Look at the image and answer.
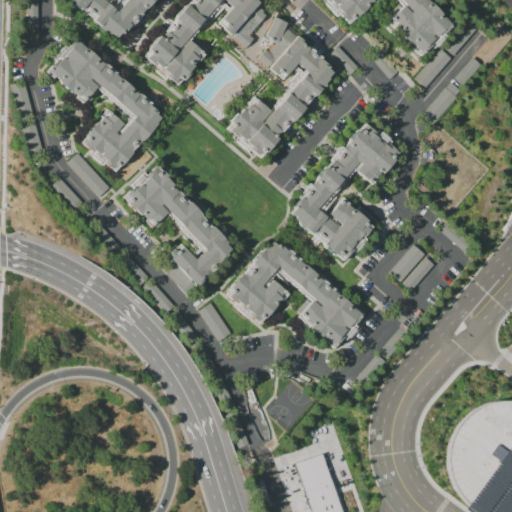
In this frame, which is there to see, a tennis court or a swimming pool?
swimming pool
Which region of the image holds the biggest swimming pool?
top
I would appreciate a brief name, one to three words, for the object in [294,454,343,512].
building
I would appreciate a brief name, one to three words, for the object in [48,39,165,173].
building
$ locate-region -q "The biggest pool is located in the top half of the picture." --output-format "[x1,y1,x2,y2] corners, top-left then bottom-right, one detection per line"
[188,49,254,122]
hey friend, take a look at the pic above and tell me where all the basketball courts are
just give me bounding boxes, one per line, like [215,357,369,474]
[268,381,312,430]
